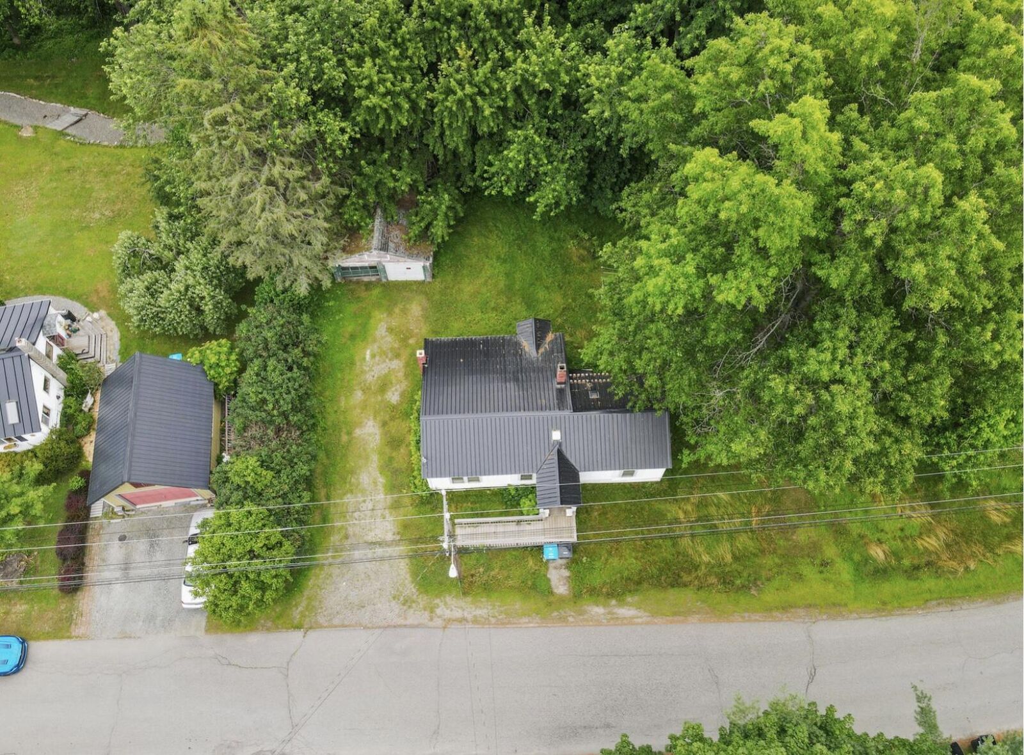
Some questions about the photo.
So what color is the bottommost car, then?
blue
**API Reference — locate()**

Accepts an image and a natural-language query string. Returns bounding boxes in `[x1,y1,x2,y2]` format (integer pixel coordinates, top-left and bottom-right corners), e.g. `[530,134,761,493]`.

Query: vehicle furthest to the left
[0,633,33,678]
